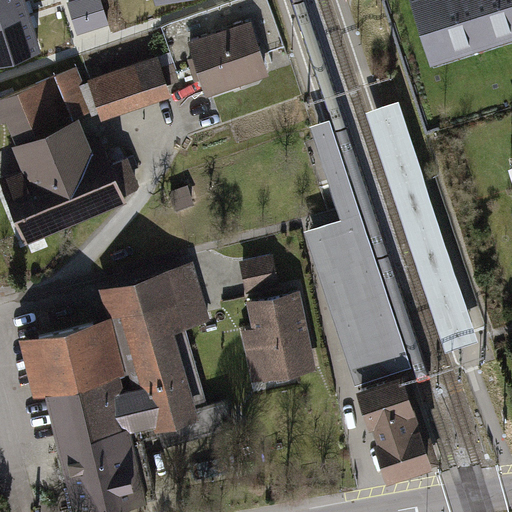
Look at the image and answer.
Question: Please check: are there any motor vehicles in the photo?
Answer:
Yes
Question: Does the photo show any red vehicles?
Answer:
Yes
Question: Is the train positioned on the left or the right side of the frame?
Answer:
right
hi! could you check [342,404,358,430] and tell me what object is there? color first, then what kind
white vehicle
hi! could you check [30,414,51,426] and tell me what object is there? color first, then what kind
white vehicle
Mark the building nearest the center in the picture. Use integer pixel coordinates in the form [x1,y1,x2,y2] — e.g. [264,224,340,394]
[240,254,279,296]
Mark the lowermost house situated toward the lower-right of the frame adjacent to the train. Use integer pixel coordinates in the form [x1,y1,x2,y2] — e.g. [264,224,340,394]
[356,378,432,486]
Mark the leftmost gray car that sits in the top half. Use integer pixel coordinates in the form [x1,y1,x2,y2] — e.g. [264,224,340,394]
[158,101,174,125]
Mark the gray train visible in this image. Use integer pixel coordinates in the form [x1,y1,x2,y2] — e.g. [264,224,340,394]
[290,0,432,383]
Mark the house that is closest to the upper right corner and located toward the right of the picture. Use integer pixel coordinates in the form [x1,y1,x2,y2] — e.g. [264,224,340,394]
[409,0,512,68]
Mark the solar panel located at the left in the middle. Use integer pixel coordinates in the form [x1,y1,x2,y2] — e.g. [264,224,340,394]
[20,188,121,244]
